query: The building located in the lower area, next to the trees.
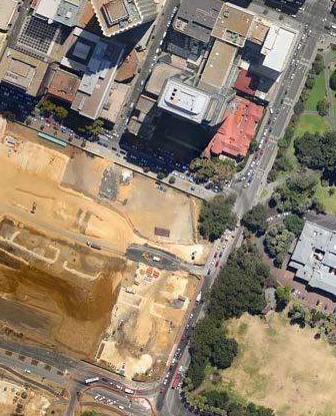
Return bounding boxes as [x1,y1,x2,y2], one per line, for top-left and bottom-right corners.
[288,222,336,295]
